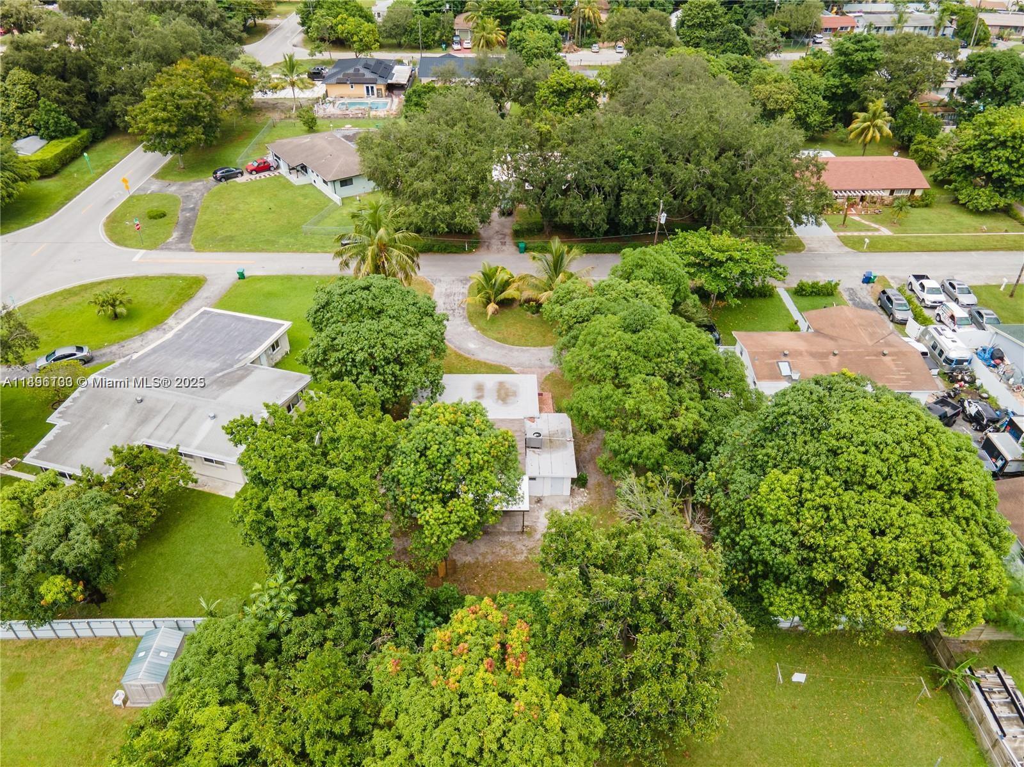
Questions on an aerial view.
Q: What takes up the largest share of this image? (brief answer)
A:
trees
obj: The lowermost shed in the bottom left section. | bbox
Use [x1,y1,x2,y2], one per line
[119,626,192,712]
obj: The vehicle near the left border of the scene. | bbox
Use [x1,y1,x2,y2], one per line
[28,345,96,372]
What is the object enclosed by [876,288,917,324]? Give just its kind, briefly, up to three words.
car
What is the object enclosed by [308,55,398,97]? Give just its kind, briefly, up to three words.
house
